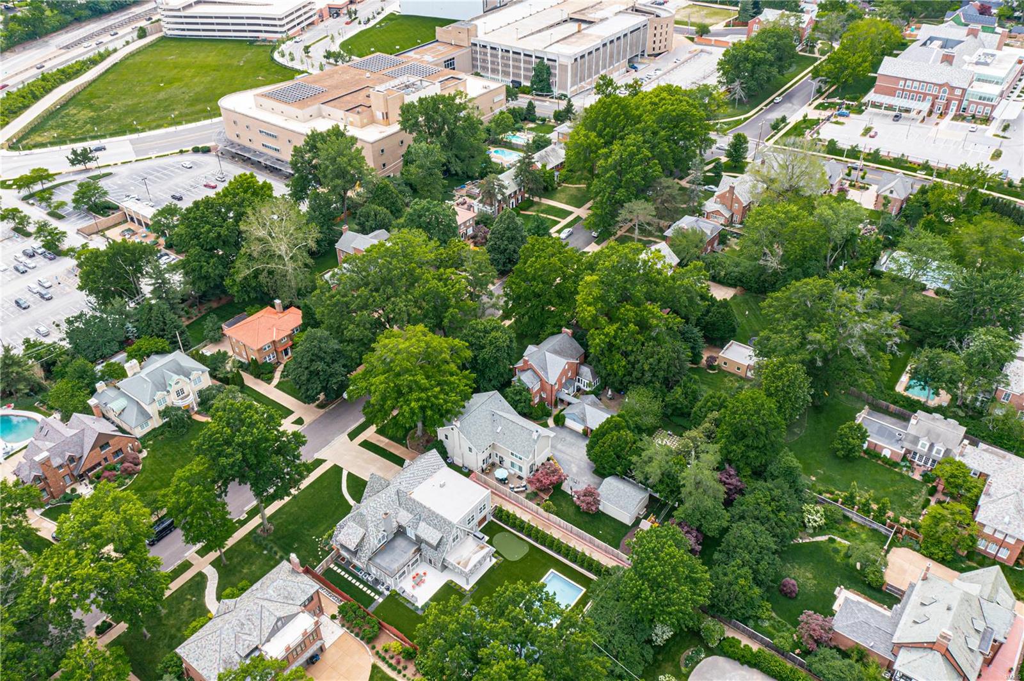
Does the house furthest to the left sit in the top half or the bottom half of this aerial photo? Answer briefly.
bottom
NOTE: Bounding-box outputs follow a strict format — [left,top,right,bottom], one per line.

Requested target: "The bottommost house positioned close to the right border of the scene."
[830,561,1016,681]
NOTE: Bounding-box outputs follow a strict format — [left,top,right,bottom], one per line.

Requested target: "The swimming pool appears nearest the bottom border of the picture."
[527,569,585,618]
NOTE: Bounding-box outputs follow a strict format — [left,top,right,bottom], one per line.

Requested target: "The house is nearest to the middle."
[512,327,600,408]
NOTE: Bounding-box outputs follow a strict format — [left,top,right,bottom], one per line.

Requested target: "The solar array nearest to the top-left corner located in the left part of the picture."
[265,81,323,102]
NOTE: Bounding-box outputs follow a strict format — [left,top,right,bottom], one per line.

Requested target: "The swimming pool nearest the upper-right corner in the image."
[877,250,957,291]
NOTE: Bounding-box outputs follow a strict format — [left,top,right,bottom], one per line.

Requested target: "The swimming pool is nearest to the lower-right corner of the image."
[895,369,952,407]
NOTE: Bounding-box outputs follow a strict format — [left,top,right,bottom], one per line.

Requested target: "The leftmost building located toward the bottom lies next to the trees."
[13,413,137,501]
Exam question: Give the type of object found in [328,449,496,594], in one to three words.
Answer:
house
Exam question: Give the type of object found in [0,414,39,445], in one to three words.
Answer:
swimming pool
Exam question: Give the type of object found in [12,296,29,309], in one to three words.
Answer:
vehicle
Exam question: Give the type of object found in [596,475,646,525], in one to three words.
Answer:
building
